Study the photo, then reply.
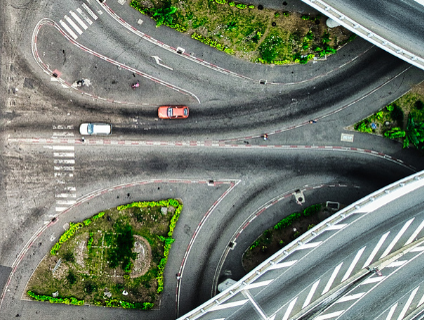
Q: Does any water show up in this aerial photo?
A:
No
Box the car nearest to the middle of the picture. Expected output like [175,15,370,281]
[157,103,190,119]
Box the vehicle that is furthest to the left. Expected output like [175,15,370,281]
[78,121,111,136]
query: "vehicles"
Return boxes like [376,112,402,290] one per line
[157,103,190,119]
[78,121,111,136]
